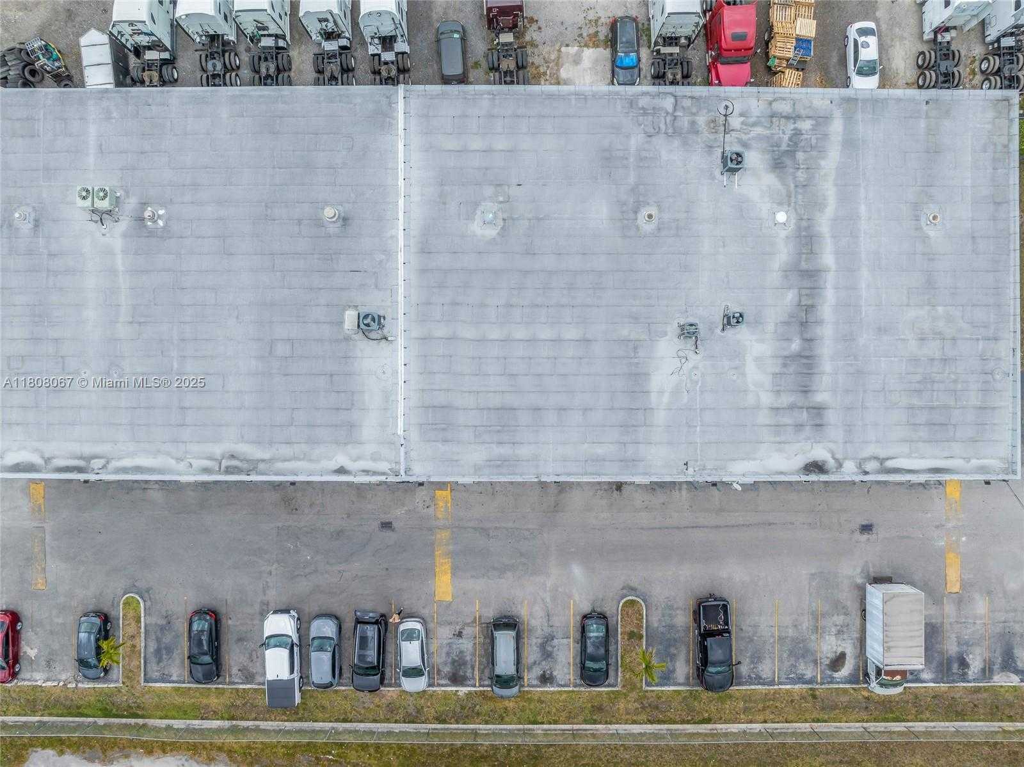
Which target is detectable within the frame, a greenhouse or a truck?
truck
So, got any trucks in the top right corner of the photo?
Yes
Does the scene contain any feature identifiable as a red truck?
Yes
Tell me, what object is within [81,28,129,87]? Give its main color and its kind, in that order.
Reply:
white trailer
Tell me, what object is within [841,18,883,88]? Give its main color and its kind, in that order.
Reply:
white car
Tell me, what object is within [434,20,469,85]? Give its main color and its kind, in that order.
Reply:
gray car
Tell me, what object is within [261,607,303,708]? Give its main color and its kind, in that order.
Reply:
white truck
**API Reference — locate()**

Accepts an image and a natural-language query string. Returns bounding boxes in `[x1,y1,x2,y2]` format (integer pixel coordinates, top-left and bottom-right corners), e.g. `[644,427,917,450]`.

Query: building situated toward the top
[0,82,1021,483]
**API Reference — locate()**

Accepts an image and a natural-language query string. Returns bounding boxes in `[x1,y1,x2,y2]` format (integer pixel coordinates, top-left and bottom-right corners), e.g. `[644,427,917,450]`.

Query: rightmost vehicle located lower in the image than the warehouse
[860,571,925,693]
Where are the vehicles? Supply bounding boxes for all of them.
[434,20,469,85]
[488,0,528,86]
[73,610,113,678]
[349,614,387,696]
[0,610,26,684]
[607,13,643,86]
[106,0,179,86]
[651,0,704,87]
[184,607,224,682]
[487,613,523,697]
[360,0,410,85]
[578,610,613,686]
[395,614,431,692]
[914,0,993,88]
[841,18,883,88]
[707,0,763,87]
[860,571,925,693]
[301,0,355,85]
[976,0,1024,94]
[306,613,343,689]
[696,586,737,691]
[234,0,294,86]
[261,607,303,708]
[177,0,242,86]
